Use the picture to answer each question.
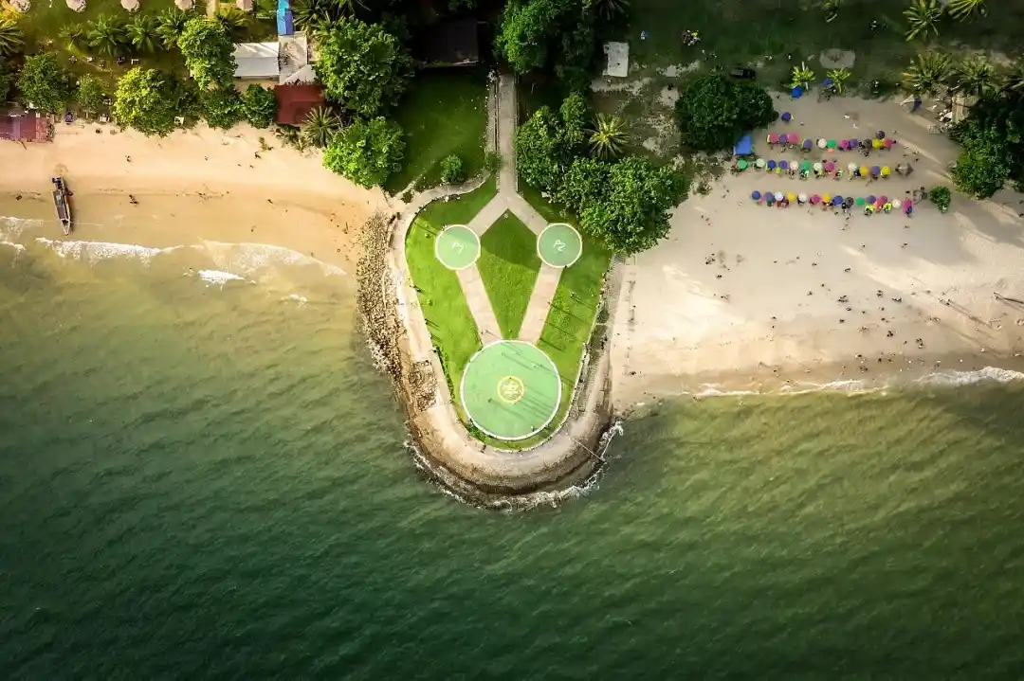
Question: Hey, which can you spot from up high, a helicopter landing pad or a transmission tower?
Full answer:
There is a helicopter landing pad in the scene.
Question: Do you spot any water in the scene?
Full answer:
Yes, some water is visible.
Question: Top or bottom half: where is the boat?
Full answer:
The top half of the photo is where the boat is.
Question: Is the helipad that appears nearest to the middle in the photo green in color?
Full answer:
Yes, the helipad that appears nearest to the middle is green.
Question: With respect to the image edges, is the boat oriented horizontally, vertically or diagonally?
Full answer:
The boat is oriented vertically.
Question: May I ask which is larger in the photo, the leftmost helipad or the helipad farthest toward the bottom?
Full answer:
The helipad farthest toward the bottom is larger than the leftmost helipad.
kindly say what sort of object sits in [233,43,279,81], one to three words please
house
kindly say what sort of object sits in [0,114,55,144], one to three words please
building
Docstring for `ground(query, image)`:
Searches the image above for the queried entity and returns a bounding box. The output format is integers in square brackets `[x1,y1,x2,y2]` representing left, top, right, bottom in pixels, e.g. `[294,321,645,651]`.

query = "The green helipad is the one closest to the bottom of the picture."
[461,340,561,441]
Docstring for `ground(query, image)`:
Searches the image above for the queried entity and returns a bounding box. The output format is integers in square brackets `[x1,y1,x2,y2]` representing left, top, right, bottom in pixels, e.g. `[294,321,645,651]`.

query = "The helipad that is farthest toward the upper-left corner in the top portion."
[435,224,480,270]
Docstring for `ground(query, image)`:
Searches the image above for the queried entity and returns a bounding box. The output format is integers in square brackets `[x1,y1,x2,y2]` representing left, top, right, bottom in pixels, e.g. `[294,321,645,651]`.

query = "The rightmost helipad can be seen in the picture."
[537,222,582,267]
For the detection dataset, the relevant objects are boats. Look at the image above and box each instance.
[54,178,77,233]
